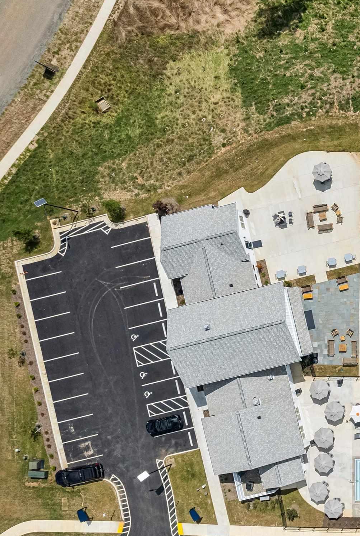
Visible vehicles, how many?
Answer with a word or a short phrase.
2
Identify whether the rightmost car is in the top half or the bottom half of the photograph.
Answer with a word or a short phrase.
bottom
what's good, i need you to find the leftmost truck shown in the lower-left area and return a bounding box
[58,463,108,486]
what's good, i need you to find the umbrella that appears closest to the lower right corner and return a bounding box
[322,499,343,520]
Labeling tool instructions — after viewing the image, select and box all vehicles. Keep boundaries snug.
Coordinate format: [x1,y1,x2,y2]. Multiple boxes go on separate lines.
[58,463,108,486]
[148,414,186,437]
